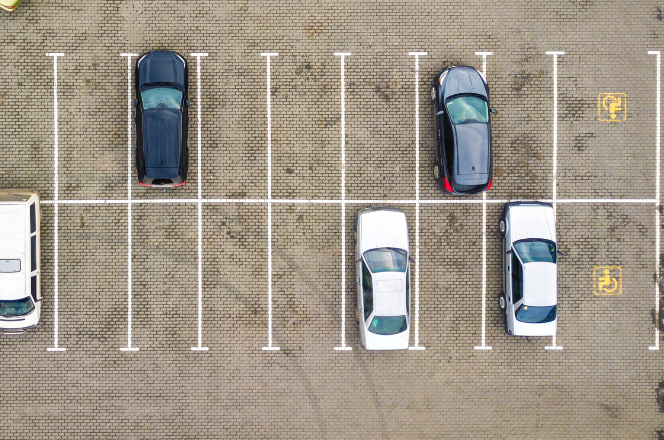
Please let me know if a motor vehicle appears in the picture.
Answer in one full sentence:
Yes, the frame does contain a motor vehicle.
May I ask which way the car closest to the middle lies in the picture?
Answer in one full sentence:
The car closest to the middle is oriented vertically.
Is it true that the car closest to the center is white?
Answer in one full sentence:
Yes, the car closest to the center appears white.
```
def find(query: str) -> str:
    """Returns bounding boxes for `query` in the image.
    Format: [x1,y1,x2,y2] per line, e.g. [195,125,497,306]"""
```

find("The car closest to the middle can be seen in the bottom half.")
[353,206,416,351]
